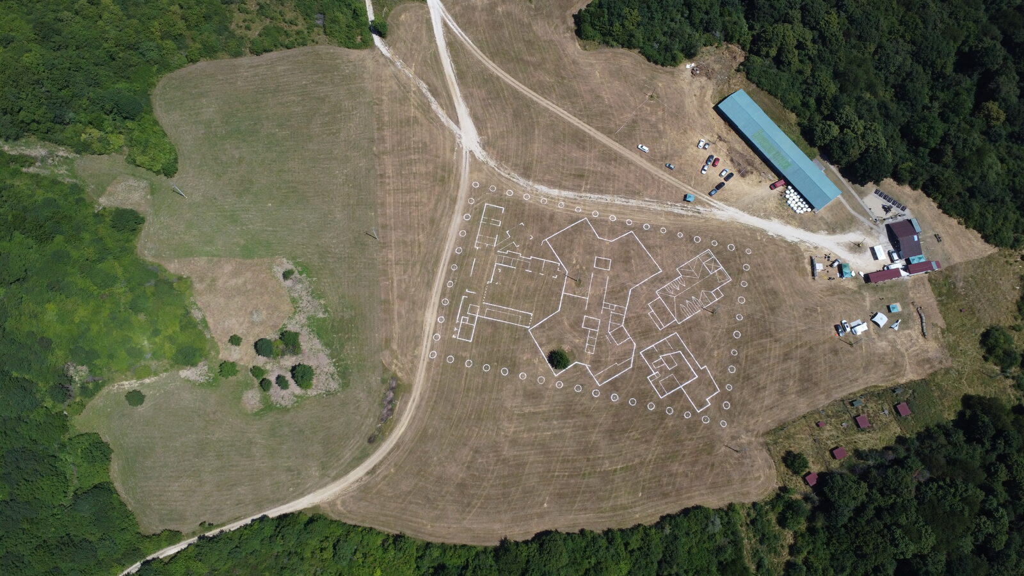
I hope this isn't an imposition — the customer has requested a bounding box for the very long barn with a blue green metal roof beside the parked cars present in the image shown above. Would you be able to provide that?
[717,89,842,214]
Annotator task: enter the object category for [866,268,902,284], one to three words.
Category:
shed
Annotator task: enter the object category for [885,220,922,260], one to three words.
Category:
house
